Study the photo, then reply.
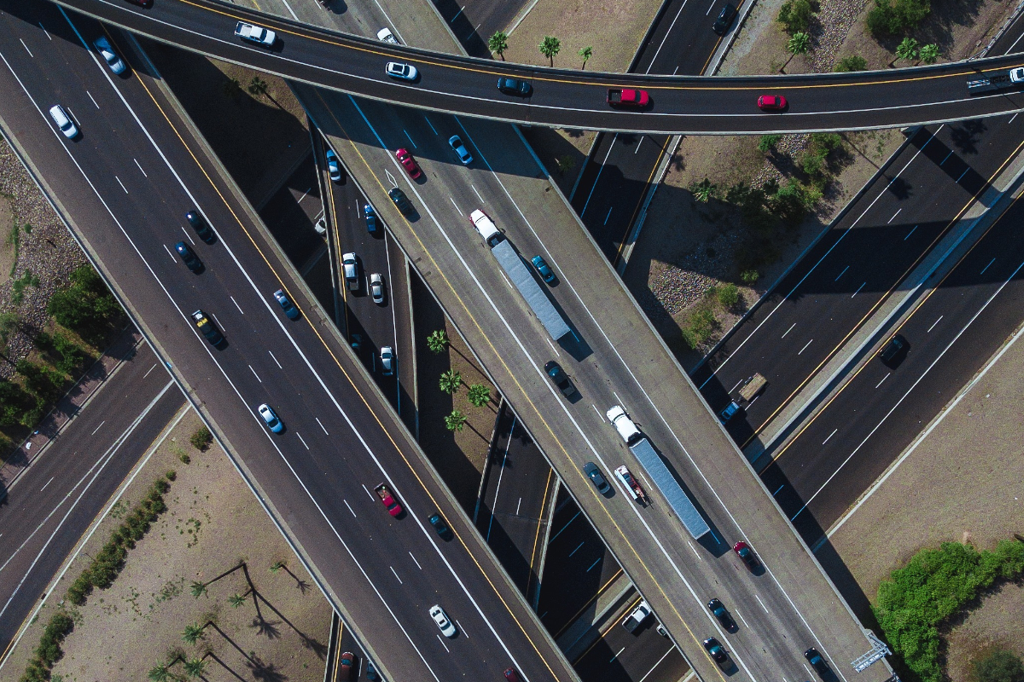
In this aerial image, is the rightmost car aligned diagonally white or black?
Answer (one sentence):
The color of the rightmost car aligned diagonally is black.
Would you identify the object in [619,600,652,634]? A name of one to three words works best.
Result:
truck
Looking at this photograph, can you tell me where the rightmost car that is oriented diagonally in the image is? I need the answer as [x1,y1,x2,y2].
[877,332,909,366]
